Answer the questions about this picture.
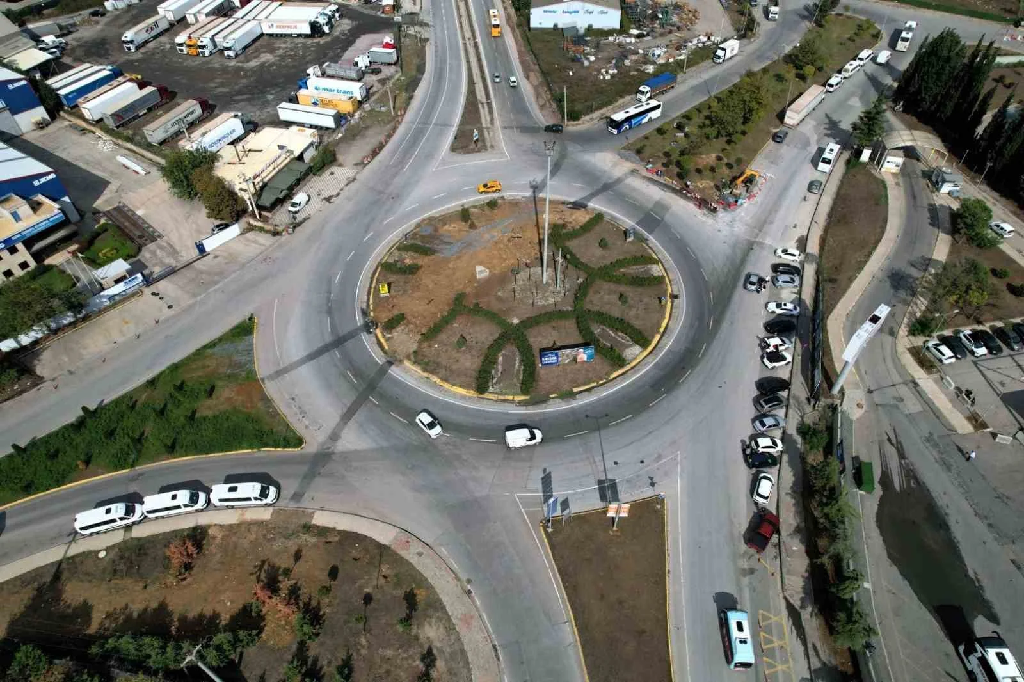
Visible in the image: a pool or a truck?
truck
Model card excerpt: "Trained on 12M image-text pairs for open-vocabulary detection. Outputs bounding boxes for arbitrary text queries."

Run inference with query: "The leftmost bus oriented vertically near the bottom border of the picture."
[723,602,753,674]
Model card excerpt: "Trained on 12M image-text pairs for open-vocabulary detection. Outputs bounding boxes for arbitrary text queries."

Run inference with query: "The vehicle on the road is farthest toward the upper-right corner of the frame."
[897,23,916,46]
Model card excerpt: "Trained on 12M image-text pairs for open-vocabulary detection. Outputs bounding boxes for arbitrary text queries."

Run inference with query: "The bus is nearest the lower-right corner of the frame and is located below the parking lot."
[963,639,1022,682]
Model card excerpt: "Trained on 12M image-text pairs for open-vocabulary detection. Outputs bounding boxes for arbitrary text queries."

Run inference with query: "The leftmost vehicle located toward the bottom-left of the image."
[73,506,144,539]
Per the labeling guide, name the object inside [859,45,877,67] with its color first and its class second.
white vehicle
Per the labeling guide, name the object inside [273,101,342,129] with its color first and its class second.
white trailer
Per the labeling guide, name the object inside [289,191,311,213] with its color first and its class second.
white vehicle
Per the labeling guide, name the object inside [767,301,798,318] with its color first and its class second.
white car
